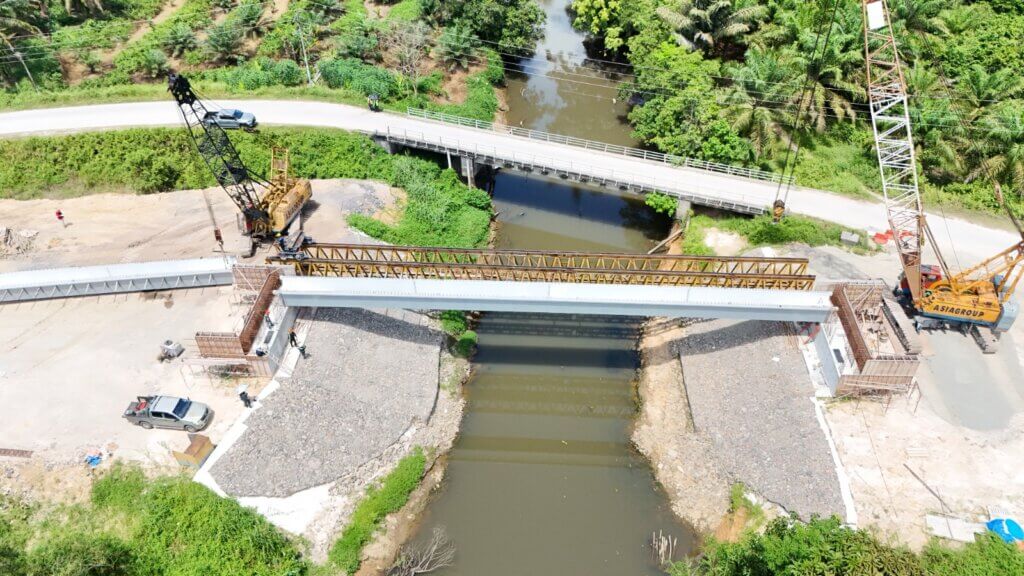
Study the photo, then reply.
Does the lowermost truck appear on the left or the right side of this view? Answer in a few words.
left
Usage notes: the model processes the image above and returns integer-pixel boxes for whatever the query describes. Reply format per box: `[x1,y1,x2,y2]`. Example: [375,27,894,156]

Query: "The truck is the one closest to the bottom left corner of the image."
[118,391,211,431]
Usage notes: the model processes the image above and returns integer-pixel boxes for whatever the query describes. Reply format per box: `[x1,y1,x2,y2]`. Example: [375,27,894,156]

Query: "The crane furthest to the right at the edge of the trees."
[773,0,1024,357]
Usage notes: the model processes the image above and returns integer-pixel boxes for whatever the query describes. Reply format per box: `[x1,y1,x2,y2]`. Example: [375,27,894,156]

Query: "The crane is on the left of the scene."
[155,78,320,268]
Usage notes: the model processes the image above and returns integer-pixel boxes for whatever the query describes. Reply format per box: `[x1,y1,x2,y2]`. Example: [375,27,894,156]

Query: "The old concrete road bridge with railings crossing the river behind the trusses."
[372,104,781,239]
